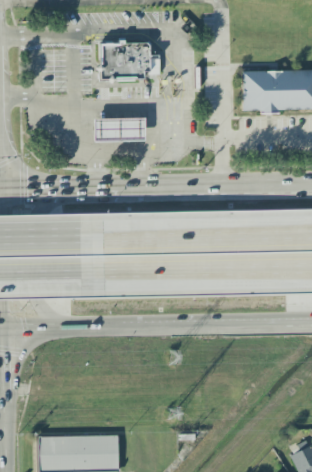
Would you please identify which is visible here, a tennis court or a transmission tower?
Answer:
transmission tower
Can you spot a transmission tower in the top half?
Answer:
No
